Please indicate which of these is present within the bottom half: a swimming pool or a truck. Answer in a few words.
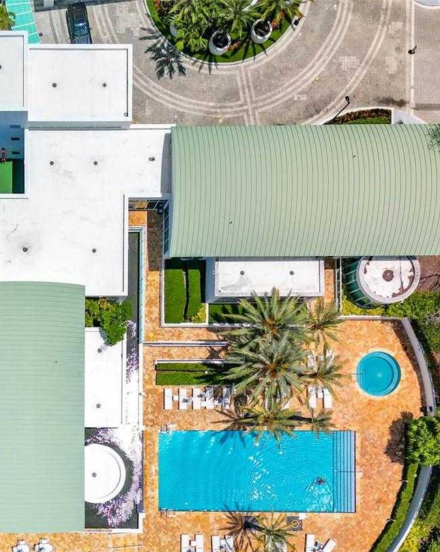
swimming pool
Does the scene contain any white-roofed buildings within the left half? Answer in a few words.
Yes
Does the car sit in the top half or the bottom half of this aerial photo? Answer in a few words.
top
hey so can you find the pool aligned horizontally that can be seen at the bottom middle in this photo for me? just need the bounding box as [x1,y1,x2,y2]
[158,424,368,514]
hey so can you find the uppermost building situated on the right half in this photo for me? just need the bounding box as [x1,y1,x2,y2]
[163,124,440,263]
